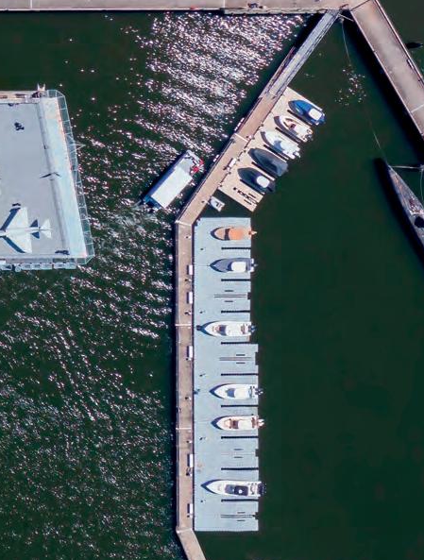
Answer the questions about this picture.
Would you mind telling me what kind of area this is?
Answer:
port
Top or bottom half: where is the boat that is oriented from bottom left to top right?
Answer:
top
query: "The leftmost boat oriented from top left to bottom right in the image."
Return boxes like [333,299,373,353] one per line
[209,196,225,210]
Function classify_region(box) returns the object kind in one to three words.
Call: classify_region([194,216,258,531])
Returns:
pier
